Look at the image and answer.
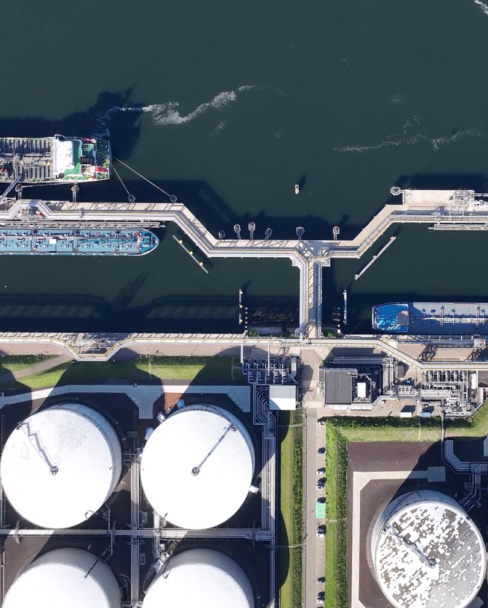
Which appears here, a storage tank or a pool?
storage tank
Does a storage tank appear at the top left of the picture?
No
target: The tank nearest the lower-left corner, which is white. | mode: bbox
[1,545,127,608]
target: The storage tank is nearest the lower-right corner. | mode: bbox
[369,486,487,608]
